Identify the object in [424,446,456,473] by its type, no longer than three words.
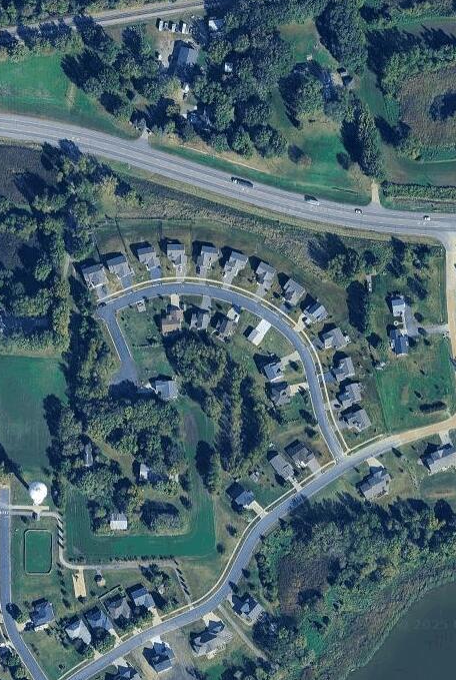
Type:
house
